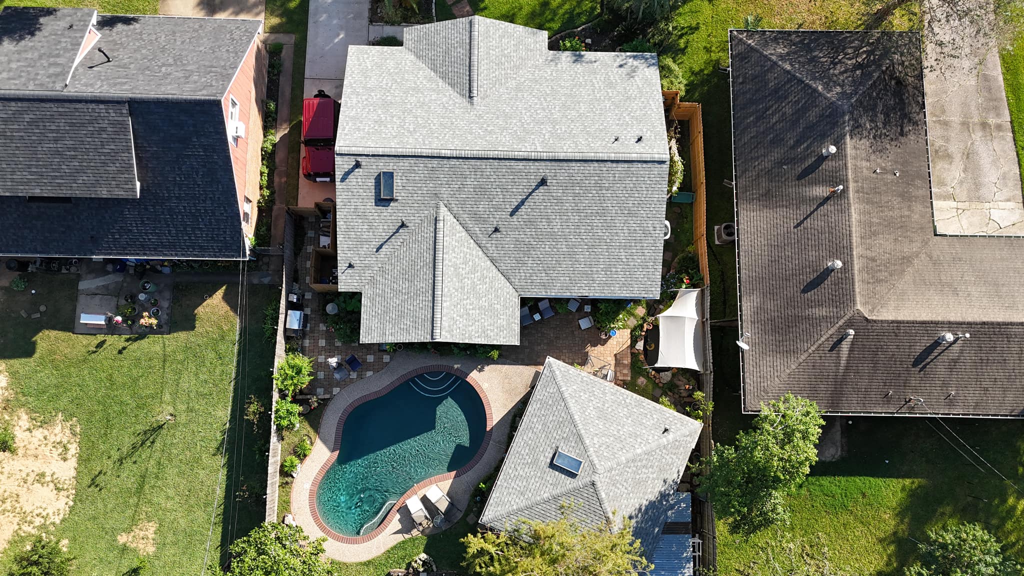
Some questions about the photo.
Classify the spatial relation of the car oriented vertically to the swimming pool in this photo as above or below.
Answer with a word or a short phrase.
above it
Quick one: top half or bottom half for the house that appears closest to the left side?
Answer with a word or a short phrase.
top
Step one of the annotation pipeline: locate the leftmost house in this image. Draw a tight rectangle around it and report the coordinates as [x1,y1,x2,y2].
[0,10,271,261]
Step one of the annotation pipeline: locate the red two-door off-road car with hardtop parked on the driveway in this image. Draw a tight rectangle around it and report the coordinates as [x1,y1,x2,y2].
[297,90,341,180]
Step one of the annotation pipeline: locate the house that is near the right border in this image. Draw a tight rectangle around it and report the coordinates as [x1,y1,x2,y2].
[710,27,1024,417]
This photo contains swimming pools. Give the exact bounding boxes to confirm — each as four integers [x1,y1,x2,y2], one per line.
[309,364,494,545]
